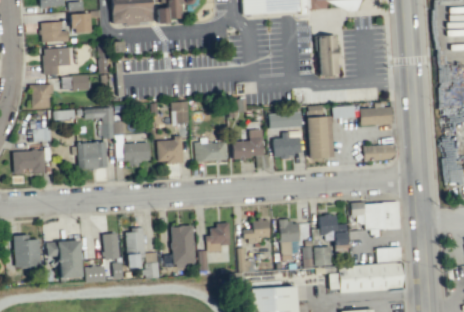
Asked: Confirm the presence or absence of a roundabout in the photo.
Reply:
No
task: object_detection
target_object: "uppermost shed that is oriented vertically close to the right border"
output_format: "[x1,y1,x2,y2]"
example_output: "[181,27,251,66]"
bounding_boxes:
[440,132,458,184]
